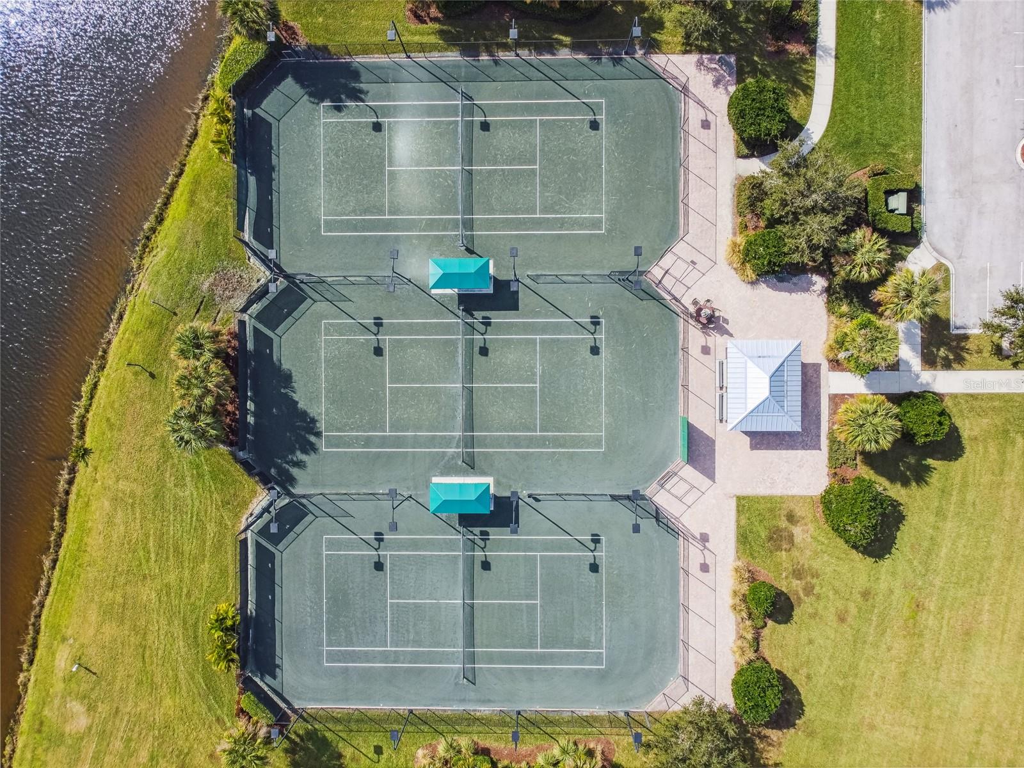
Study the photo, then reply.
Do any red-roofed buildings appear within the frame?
No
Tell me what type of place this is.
sports ground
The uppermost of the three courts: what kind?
tennis court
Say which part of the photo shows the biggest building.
right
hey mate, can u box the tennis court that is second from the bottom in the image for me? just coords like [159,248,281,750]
[247,275,682,493]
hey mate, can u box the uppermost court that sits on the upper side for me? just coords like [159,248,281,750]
[244,53,682,278]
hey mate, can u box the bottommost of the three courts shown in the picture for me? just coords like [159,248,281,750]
[249,492,682,713]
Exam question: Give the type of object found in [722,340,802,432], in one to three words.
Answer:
building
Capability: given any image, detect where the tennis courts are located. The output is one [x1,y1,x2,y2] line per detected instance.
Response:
[249,492,682,713]
[247,275,682,493]
[244,53,682,278]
